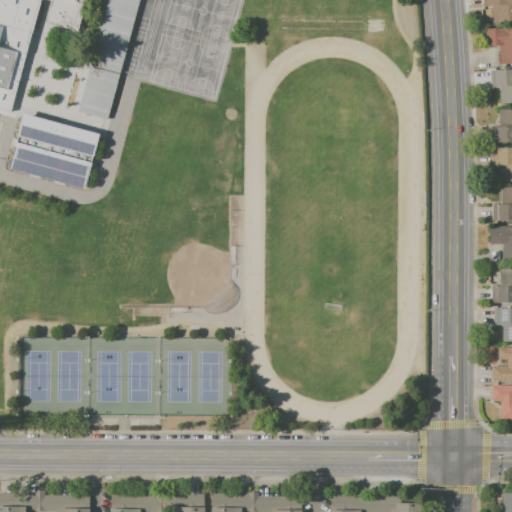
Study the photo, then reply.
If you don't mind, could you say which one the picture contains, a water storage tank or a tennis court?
tennis court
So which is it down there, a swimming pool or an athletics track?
athletics track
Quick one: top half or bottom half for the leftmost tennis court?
bottom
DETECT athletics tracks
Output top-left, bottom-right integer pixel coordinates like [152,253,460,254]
[245,36,419,422]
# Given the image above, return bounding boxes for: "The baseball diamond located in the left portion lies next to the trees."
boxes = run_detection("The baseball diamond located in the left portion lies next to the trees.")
[168,243,240,313]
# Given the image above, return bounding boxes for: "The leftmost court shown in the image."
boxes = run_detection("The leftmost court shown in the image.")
[26,351,52,402]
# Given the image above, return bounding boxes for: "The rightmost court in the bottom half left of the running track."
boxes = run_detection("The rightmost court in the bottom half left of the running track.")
[197,351,224,402]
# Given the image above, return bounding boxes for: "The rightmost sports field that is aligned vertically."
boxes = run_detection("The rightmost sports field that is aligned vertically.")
[266,58,398,402]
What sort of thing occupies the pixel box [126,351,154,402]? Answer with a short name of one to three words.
tennis court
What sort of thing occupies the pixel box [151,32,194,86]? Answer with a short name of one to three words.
basketball court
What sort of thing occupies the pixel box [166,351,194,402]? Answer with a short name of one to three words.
tennis court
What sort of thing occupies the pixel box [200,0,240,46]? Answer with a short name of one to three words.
basketball court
